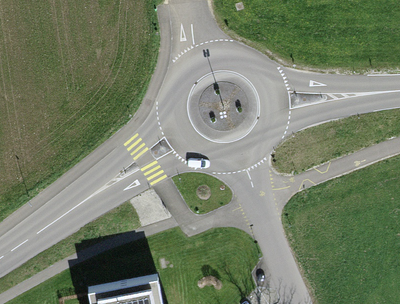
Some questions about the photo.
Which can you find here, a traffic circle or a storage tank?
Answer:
traffic circle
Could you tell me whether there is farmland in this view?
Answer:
Yes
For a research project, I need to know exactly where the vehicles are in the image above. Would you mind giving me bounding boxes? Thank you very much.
[188,160,210,170]
[257,272,266,284]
